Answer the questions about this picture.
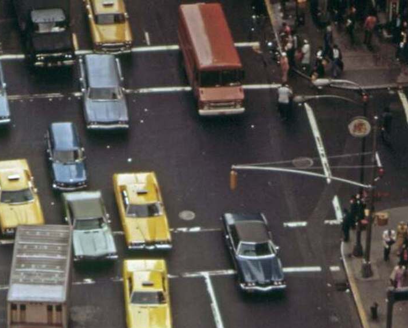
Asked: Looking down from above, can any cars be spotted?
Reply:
Yes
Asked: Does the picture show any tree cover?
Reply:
No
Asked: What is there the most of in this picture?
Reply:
paved ground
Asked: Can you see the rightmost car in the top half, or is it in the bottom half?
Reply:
bottom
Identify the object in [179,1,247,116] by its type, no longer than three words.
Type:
van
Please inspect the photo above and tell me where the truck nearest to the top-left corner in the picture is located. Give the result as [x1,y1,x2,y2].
[25,0,75,67]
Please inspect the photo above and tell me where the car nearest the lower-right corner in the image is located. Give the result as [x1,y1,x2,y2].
[221,213,285,290]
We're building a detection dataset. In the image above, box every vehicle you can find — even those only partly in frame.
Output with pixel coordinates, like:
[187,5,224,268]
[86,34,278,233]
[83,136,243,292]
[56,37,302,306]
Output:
[43,122,87,189]
[113,174,172,250]
[83,0,132,53]
[221,213,285,290]
[79,56,128,129]
[60,189,117,260]
[122,259,172,328]
[0,160,42,233]
[25,0,75,67]
[179,1,247,116]
[6,223,68,328]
